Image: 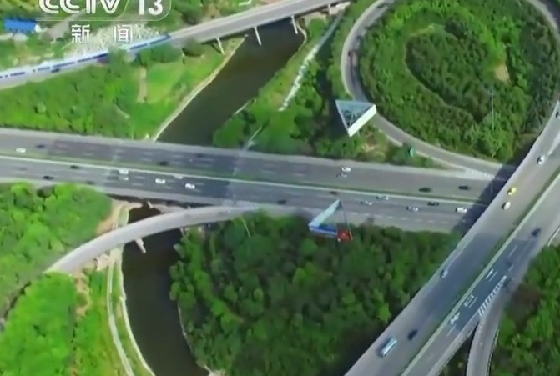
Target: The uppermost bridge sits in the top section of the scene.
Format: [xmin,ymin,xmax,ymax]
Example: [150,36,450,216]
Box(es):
[142,0,333,53]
